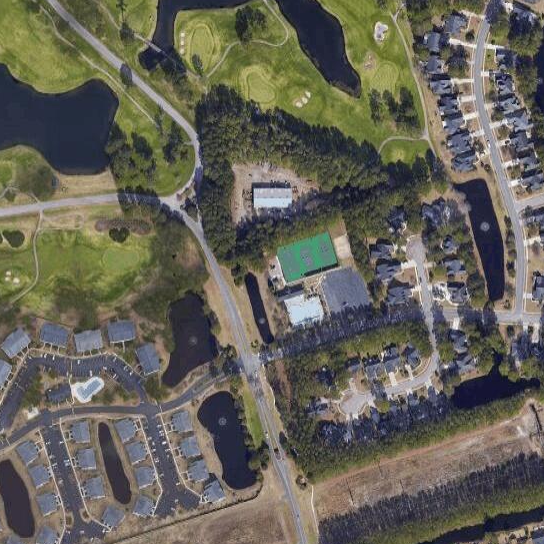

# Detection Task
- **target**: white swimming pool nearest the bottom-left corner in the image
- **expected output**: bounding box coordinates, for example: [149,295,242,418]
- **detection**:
[71,377,104,402]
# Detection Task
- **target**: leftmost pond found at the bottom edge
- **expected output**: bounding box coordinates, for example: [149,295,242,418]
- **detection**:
[0,459,35,537]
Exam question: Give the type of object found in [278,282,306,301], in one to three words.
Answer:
building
